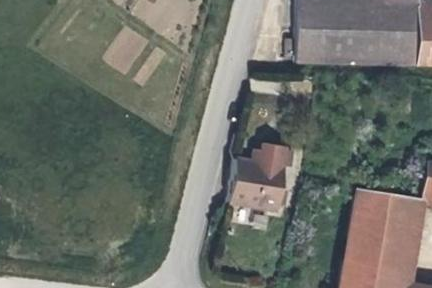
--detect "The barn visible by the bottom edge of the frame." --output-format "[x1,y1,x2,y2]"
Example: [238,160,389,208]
[334,188,432,288]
